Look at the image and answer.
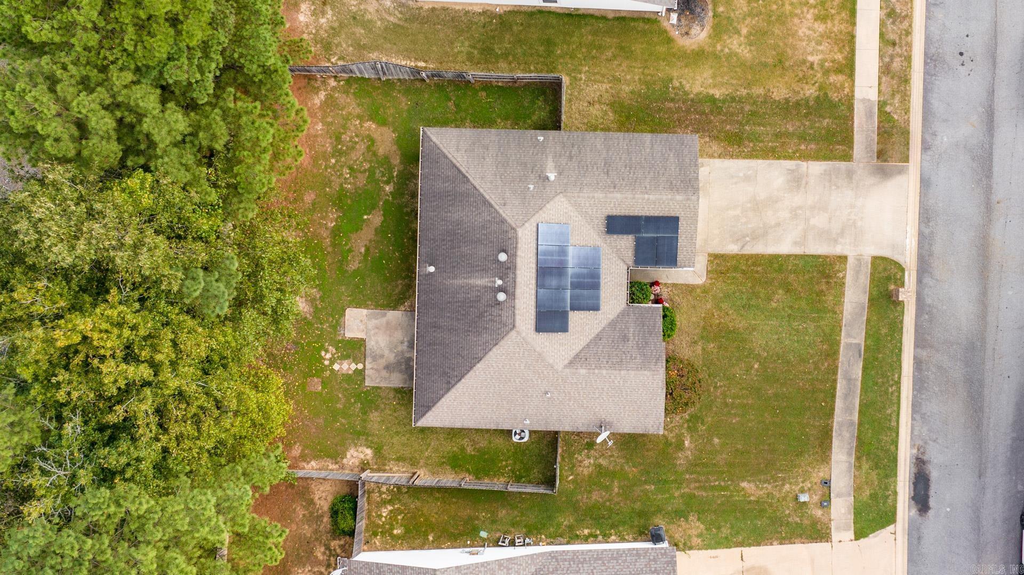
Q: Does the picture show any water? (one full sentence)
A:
No, there is no water in the image.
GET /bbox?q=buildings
[419,0,677,21]
[412,127,699,434]
[342,543,678,575]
